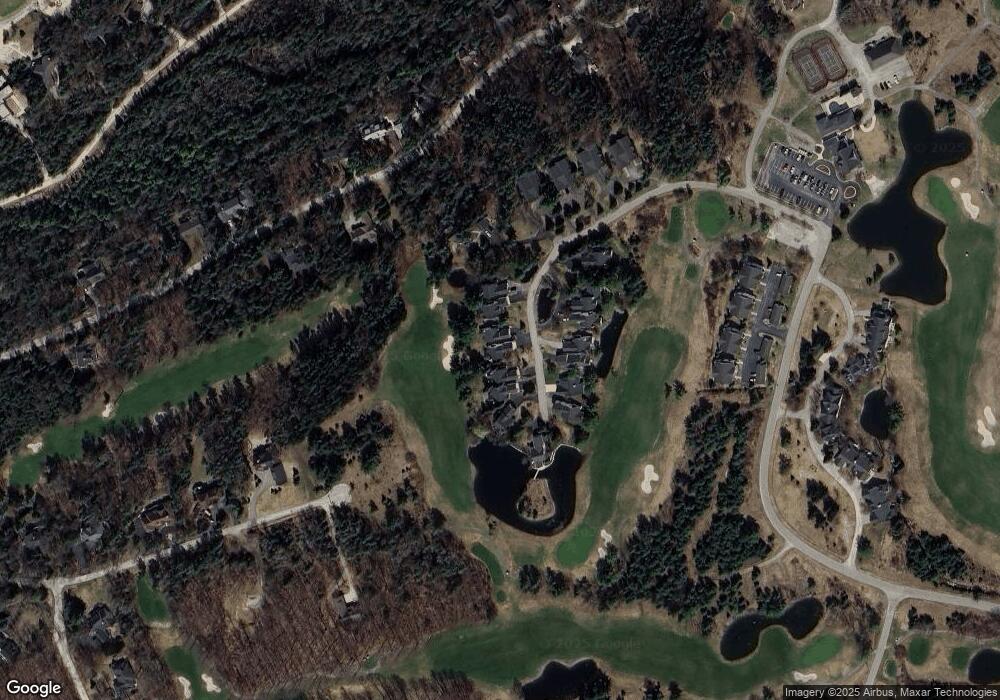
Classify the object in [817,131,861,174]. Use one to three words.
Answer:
building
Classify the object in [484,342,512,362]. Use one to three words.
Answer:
house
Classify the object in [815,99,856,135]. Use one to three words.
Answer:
building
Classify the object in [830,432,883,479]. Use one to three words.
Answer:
house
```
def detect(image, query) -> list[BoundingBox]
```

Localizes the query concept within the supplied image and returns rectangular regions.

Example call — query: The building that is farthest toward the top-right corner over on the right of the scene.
[864,36,906,73]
